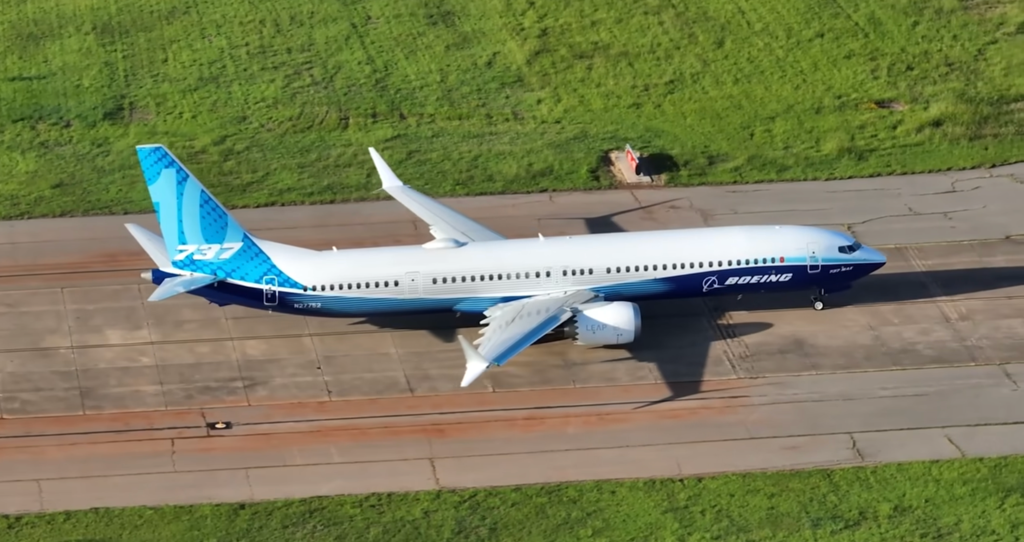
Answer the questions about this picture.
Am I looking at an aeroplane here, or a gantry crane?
aeroplane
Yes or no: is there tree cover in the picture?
No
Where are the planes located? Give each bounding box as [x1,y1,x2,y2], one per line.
[123,146,886,388]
